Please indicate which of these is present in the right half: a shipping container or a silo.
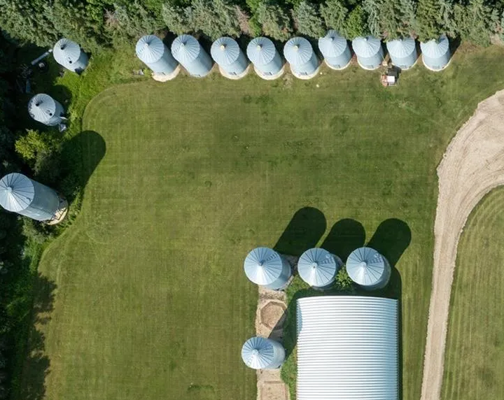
silo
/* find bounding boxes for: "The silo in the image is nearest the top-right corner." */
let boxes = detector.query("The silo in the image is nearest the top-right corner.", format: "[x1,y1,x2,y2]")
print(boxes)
[420,28,449,70]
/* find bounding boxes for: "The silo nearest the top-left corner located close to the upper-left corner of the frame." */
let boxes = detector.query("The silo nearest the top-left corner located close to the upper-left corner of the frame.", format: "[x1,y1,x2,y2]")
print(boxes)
[54,37,92,73]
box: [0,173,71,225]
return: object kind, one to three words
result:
silo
